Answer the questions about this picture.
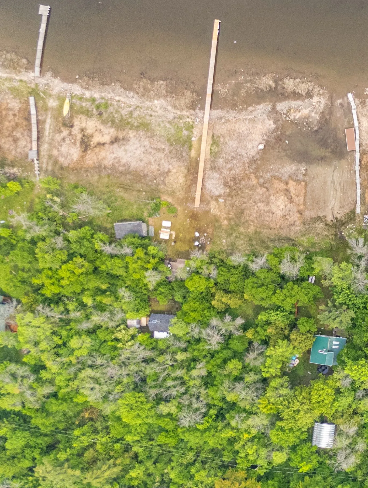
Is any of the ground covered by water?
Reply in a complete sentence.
Yes, there's water in this view.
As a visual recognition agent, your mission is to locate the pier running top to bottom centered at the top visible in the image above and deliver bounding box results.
[195,19,220,207]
